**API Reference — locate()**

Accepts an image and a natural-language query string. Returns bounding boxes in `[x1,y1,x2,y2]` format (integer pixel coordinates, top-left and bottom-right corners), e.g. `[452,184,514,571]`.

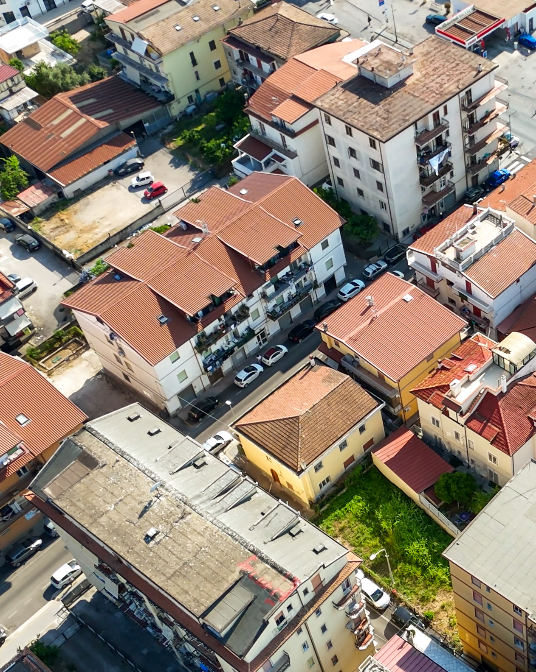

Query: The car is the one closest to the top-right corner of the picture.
[517,31,536,49]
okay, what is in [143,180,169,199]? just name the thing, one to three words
car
